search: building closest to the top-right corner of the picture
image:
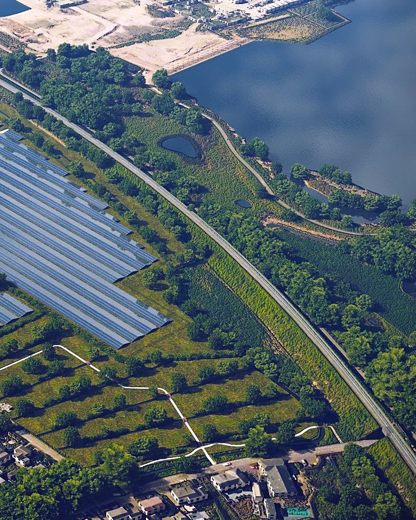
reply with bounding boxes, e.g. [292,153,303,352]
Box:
[256,0,317,15]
